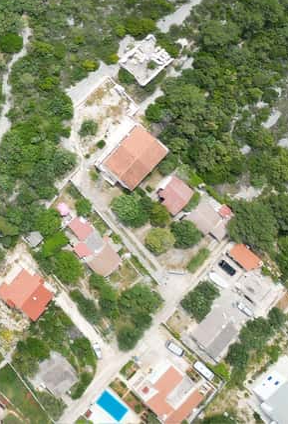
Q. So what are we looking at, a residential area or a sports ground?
residential area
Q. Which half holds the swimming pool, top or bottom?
bottom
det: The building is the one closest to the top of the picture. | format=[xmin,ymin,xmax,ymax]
[92,120,169,190]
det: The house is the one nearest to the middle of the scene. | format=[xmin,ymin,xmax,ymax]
[156,173,193,216]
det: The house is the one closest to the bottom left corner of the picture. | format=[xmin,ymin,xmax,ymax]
[38,347,77,397]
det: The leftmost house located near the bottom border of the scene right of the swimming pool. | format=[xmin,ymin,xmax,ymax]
[144,362,206,424]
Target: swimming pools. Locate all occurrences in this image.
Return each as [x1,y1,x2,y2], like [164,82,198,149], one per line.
[93,387,129,424]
